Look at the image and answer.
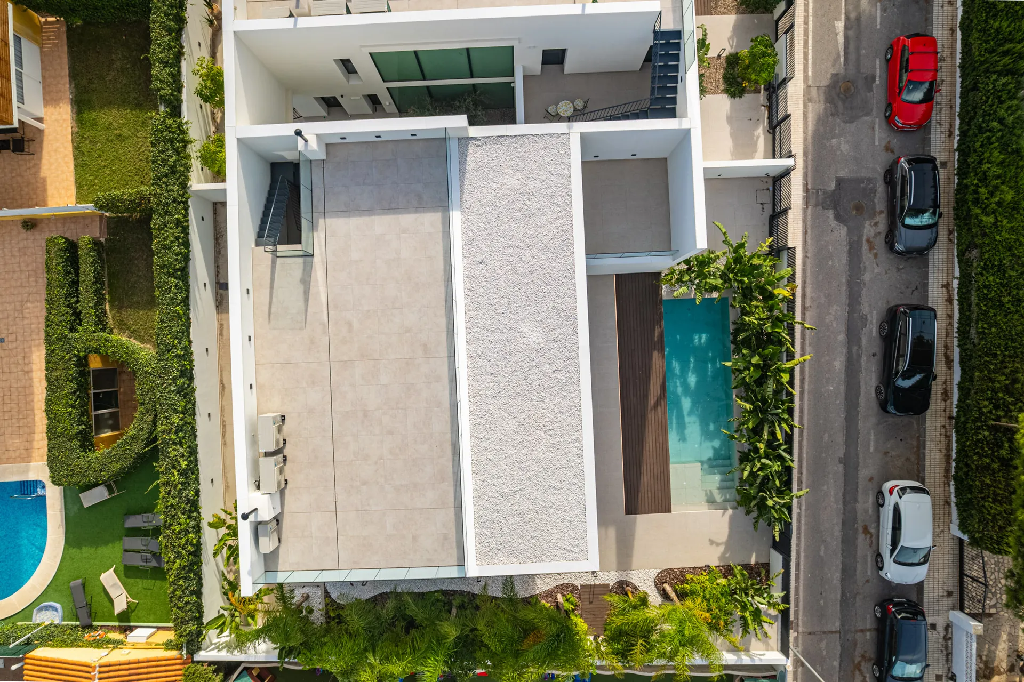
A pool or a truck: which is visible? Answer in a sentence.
The one in the frame is a pool.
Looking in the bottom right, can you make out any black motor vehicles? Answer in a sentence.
Yes, a black motor vehicle appears in the bottom right.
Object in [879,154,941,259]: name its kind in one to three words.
car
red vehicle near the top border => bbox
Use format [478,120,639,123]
[882,34,941,134]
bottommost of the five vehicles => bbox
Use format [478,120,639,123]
[871,595,929,682]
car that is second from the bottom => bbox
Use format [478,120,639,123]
[873,479,933,580]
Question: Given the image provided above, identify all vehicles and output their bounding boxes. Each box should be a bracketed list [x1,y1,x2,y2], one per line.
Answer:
[882,34,941,134]
[871,595,929,682]
[879,154,941,259]
[873,479,933,580]
[875,304,938,418]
